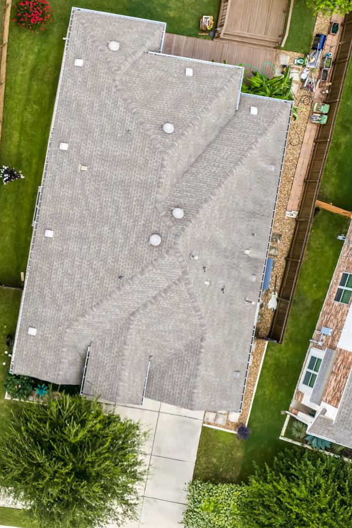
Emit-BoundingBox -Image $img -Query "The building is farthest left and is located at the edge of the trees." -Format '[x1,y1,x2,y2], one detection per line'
[8,4,294,411]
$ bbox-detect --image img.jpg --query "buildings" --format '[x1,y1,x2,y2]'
[8,4,294,411]
[288,217,352,451]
